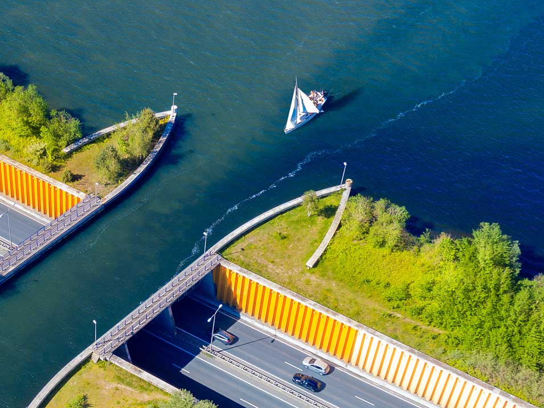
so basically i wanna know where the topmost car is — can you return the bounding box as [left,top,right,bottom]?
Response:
[211,331,238,349]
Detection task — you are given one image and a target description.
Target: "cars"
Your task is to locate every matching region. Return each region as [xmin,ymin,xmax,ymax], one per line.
[302,357,331,377]
[292,373,324,393]
[211,331,238,349]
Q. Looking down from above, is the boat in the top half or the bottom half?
top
